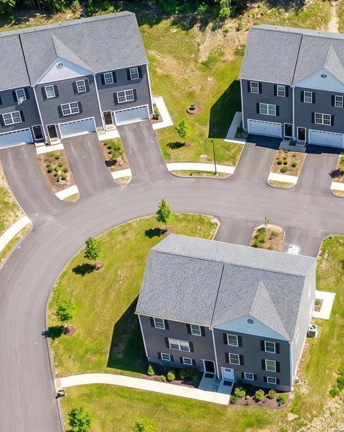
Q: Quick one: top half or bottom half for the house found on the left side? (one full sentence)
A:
You can find the house found on the left side in the top half.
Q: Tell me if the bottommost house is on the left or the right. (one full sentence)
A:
It is on the right.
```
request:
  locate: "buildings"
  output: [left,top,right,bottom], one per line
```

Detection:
[240,24,344,149]
[0,11,153,149]
[135,233,318,392]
